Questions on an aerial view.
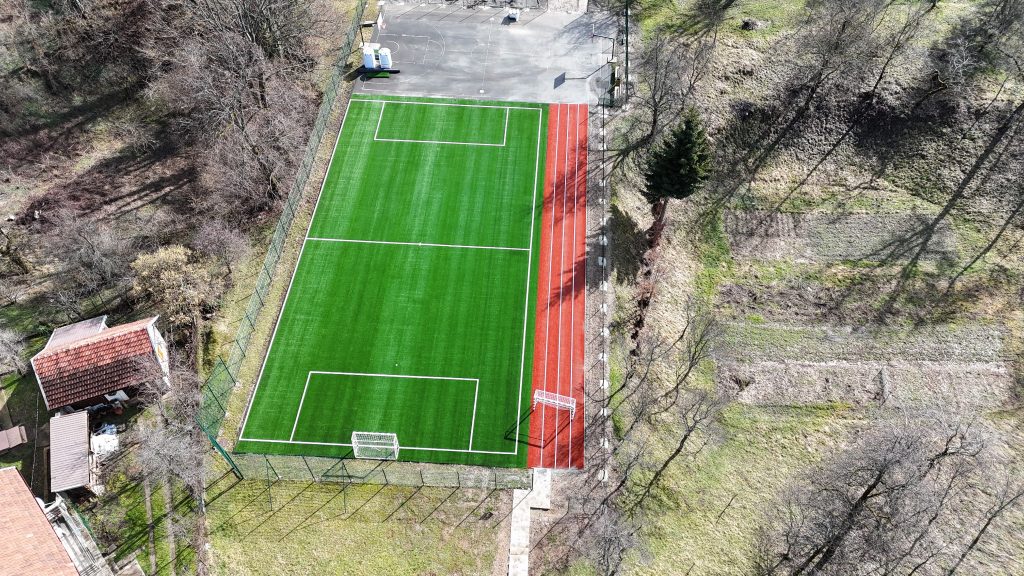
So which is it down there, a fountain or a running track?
running track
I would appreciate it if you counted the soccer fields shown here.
one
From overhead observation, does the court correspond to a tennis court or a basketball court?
basketball court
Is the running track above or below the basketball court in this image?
below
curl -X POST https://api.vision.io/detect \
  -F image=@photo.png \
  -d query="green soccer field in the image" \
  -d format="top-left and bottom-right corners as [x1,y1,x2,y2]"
[232,93,550,469]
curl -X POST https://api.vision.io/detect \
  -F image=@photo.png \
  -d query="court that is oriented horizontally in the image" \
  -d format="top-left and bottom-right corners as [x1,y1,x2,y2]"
[349,4,605,104]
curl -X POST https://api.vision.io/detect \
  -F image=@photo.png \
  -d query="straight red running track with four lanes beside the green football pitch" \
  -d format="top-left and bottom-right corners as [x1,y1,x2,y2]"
[527,104,590,470]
